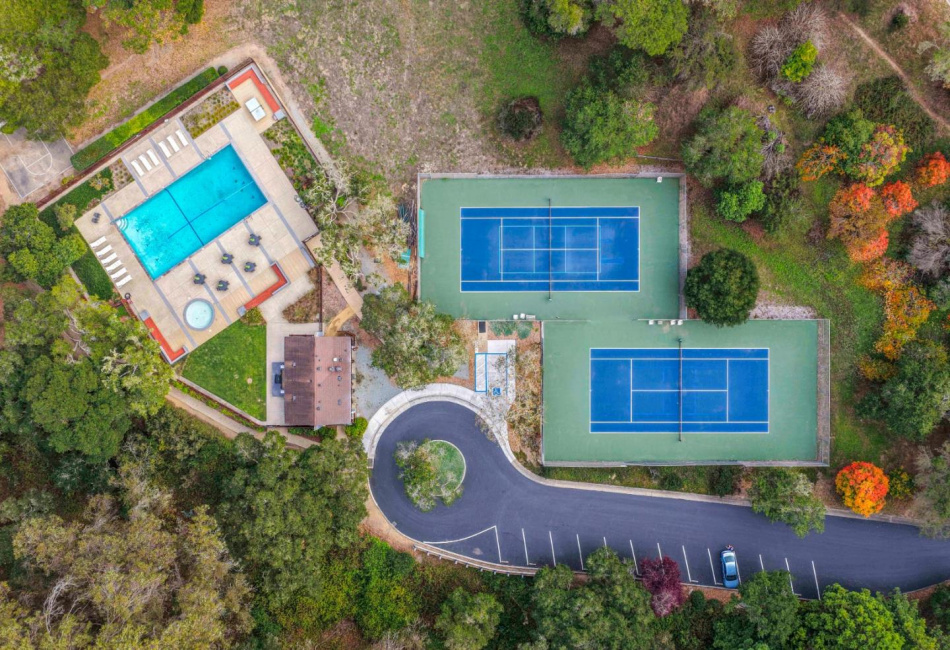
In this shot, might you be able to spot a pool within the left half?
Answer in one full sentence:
Yes, a pool is visible within the left half.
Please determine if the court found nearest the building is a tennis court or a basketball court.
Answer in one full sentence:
It turns out the court found nearest the building is a tennis court.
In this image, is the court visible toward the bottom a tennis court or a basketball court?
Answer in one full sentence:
I'd say the court visible toward the bottom is a tennis court.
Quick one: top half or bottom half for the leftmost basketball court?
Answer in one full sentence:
It is in the top half that the leftmost basketball court appears.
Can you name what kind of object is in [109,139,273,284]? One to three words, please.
swimming pool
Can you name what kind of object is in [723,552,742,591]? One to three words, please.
car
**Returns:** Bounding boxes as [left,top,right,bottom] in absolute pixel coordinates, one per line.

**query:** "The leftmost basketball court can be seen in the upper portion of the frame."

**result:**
[0,106,73,198]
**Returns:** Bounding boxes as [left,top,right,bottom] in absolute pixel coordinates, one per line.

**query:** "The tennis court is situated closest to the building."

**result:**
[421,178,681,320]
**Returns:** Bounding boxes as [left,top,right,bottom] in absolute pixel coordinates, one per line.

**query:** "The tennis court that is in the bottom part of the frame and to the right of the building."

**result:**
[545,320,818,463]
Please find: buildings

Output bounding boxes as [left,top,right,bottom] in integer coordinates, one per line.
[284,333,352,429]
